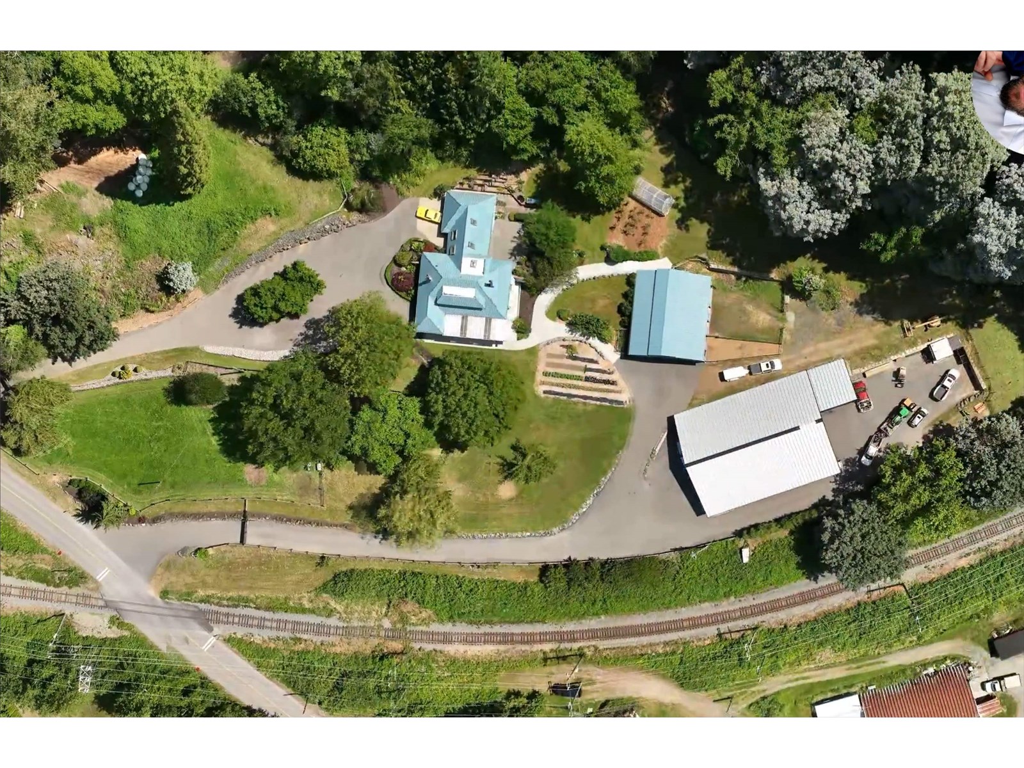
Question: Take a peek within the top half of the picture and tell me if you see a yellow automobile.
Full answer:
Yes, within the top half of the picture there is a yellow automobile.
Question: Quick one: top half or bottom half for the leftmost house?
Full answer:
It is in the top half that the leftmost house appears.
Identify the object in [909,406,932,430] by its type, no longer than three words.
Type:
car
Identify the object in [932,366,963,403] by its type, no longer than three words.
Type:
truck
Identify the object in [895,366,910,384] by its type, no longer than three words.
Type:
work vehicle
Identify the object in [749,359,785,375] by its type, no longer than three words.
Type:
vehicle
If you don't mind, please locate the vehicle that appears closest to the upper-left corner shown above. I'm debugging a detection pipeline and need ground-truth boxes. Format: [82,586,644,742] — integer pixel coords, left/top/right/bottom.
[415,207,442,224]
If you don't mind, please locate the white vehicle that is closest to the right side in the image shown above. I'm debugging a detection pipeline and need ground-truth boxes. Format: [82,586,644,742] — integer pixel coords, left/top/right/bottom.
[981,679,1006,696]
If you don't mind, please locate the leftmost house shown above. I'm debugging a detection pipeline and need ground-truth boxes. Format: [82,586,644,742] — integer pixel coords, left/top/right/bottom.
[416,190,514,345]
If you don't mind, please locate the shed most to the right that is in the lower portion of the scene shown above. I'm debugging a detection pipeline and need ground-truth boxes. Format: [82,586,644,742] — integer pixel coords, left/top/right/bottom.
[988,623,1024,659]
